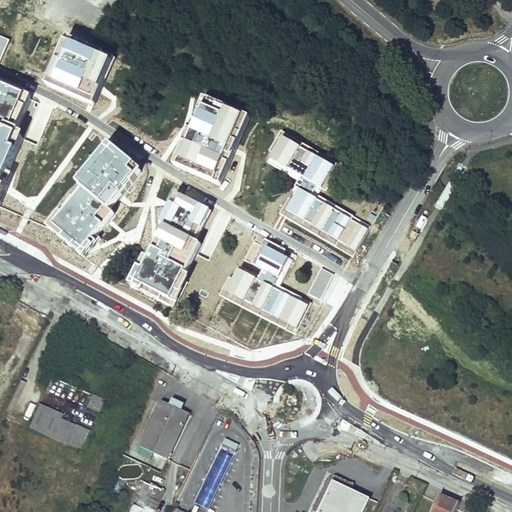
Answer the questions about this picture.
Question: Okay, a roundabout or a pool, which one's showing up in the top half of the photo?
roundabout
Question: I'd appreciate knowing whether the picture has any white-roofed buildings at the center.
Yes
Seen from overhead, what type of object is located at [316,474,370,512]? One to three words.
building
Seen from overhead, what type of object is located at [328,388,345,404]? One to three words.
vehicle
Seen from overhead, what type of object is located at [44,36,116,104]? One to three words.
house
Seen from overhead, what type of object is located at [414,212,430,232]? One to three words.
vehicle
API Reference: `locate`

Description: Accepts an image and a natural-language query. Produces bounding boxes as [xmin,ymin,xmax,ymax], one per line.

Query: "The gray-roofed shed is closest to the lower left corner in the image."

[30,403,90,449]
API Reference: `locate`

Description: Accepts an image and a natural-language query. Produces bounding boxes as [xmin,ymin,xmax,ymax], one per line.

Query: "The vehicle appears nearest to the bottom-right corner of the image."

[454,467,474,482]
